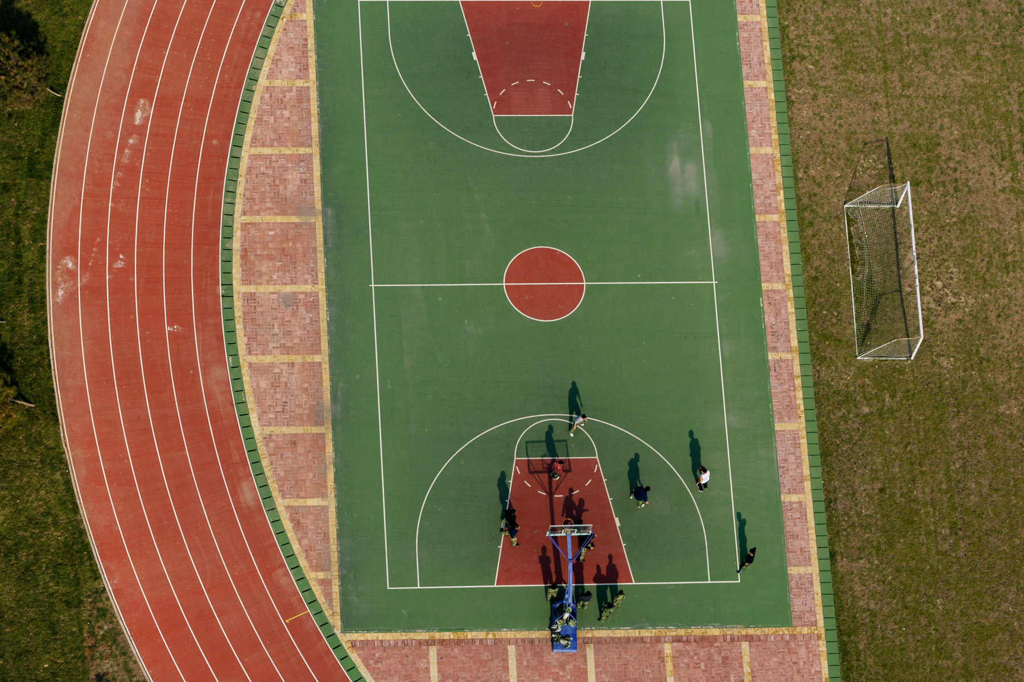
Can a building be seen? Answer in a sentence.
No, the frame has no building in it.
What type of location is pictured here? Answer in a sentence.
The area seen from above is a sports ground.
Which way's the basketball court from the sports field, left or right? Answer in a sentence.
You can see the basketball court positioned to the left of the sports field.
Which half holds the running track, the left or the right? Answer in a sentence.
It is on the left.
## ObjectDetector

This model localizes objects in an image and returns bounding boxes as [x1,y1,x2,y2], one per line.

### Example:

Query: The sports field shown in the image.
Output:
[777,0,1024,682]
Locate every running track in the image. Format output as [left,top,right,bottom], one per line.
[49,0,352,682]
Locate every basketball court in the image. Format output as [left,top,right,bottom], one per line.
[313,0,792,632]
